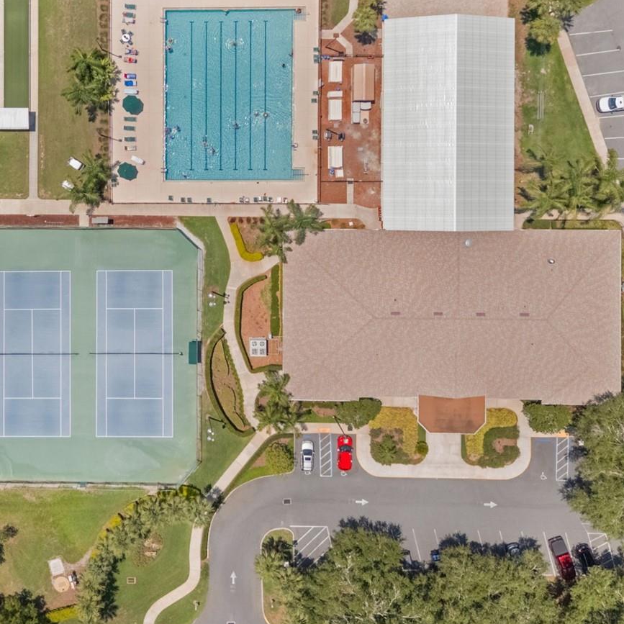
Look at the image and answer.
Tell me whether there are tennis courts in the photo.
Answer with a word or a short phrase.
Yes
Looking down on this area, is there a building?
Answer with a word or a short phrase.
Yes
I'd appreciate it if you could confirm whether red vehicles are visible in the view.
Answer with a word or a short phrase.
Yes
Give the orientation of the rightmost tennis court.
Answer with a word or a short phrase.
from top to bottom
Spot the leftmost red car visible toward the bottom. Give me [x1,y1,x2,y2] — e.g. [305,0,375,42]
[337,437,354,472]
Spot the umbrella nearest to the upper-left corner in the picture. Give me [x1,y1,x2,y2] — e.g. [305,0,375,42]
[123,94,144,116]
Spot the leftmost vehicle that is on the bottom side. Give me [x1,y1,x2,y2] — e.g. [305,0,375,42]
[301,440,317,474]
